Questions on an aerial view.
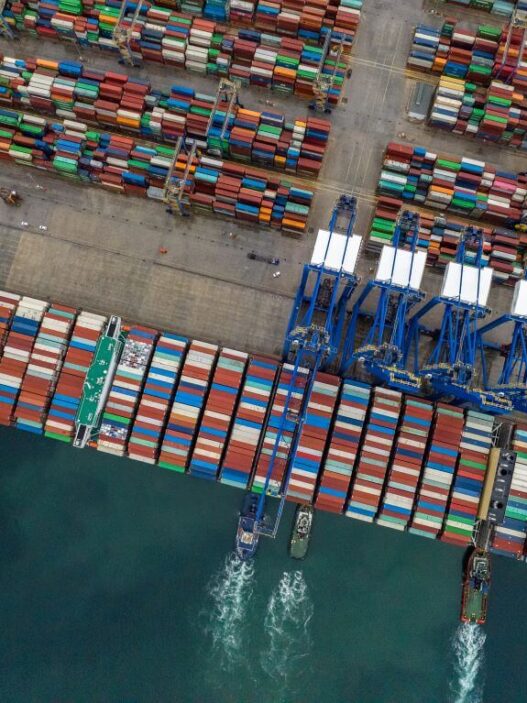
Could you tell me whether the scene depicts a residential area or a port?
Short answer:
port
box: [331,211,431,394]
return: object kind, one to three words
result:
container crane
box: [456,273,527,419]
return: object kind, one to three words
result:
container crane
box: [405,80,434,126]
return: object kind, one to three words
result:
shed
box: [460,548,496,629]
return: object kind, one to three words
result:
boat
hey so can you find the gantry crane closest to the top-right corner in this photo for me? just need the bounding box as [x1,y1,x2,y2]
[482,8,527,91]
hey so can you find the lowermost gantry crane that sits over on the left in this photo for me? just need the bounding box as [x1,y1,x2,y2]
[162,136,203,216]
